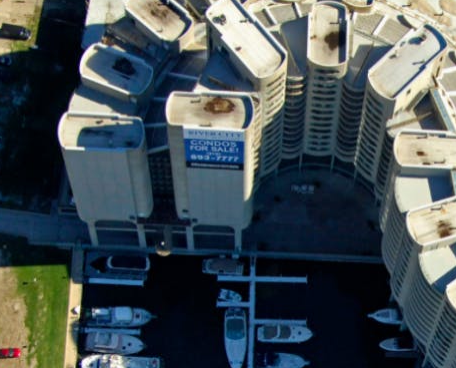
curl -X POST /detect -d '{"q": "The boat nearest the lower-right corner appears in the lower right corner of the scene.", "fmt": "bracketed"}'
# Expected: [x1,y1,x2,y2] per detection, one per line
[380,337,420,352]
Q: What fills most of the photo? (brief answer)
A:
buildings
